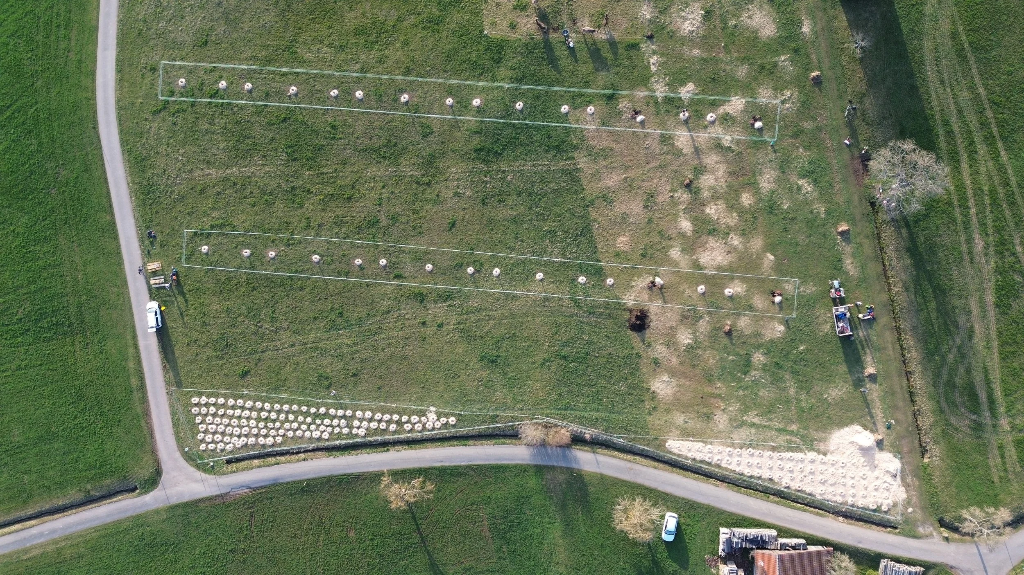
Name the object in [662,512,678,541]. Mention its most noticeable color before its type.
white car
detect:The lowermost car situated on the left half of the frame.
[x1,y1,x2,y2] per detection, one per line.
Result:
[145,302,165,336]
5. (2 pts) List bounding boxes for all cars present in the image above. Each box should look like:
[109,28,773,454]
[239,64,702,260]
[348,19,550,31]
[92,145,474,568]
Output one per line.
[662,512,678,541]
[145,302,165,336]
